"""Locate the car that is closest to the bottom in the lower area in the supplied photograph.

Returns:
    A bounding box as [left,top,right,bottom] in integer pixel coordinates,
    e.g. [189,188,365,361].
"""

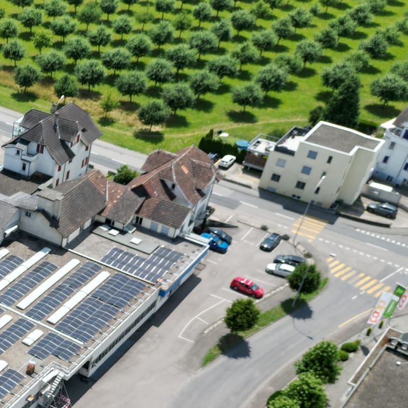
[230,276,264,299]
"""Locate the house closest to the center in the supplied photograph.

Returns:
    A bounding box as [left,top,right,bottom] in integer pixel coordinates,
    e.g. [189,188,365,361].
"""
[99,138,221,235]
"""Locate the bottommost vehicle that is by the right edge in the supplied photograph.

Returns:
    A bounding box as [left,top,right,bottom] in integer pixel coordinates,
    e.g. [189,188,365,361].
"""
[366,203,399,218]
